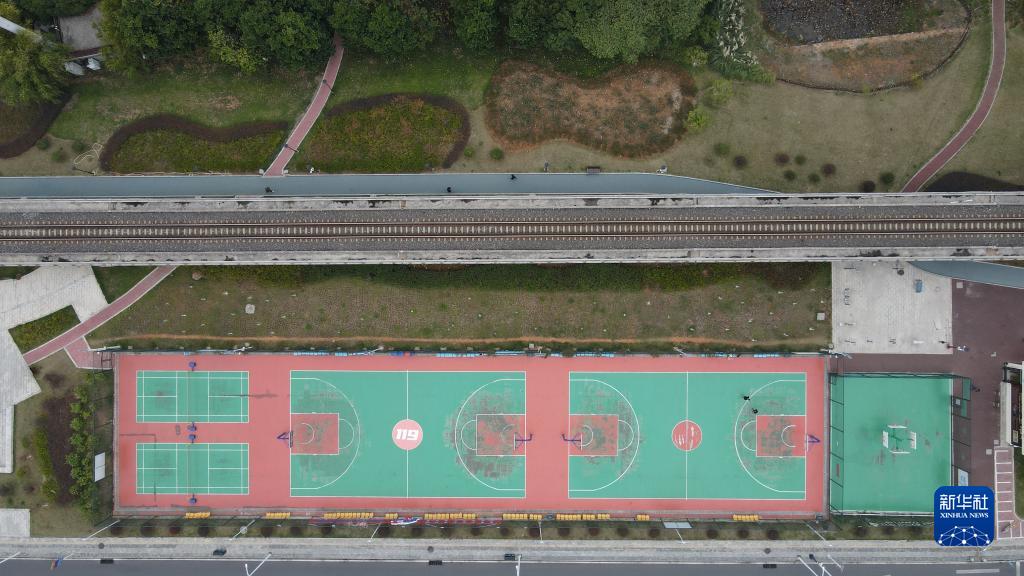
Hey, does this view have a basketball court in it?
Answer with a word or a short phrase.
Yes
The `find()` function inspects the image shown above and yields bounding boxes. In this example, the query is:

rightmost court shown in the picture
[832,372,953,516]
